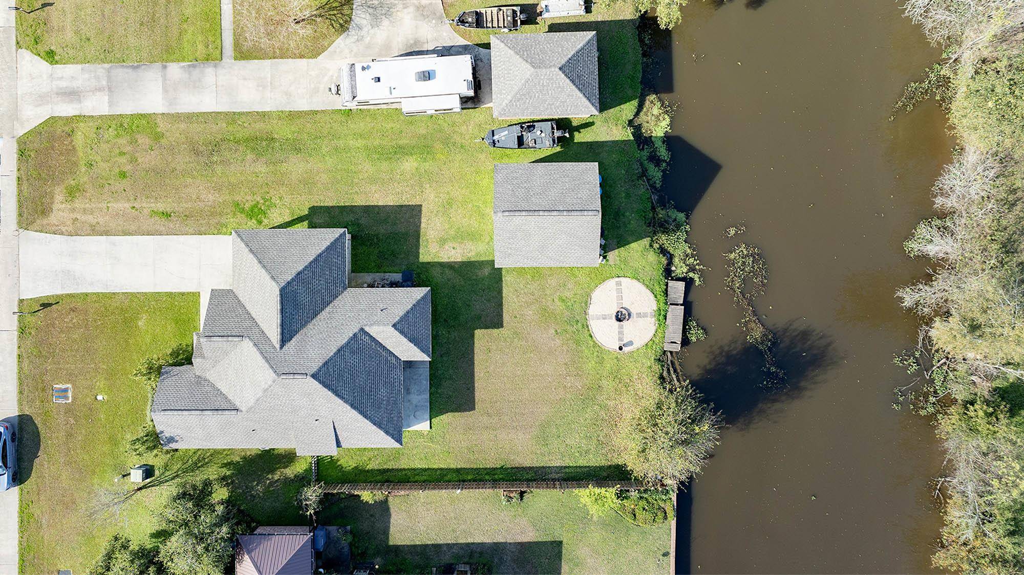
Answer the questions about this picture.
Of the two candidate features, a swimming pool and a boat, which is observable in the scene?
boat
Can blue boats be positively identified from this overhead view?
No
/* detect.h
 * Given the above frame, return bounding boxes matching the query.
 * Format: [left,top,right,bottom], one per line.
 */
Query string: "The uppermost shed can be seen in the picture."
[489,31,600,119]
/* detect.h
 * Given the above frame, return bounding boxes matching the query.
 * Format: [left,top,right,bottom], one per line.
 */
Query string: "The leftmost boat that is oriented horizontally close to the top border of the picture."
[456,6,528,30]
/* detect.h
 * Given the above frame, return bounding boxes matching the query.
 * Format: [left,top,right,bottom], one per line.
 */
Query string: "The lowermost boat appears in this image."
[485,120,569,149]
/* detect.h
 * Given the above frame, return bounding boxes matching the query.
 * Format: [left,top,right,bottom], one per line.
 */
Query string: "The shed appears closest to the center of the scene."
[493,161,603,268]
